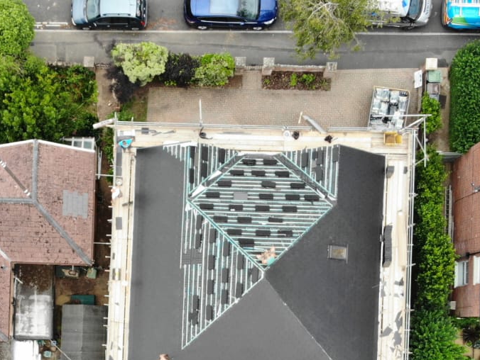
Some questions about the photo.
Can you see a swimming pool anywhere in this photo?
No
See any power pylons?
No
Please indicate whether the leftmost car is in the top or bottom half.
top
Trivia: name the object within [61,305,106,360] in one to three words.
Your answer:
shed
